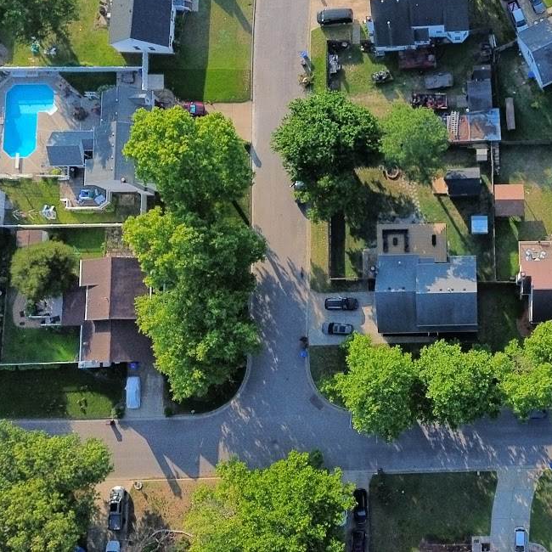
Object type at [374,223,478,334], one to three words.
house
